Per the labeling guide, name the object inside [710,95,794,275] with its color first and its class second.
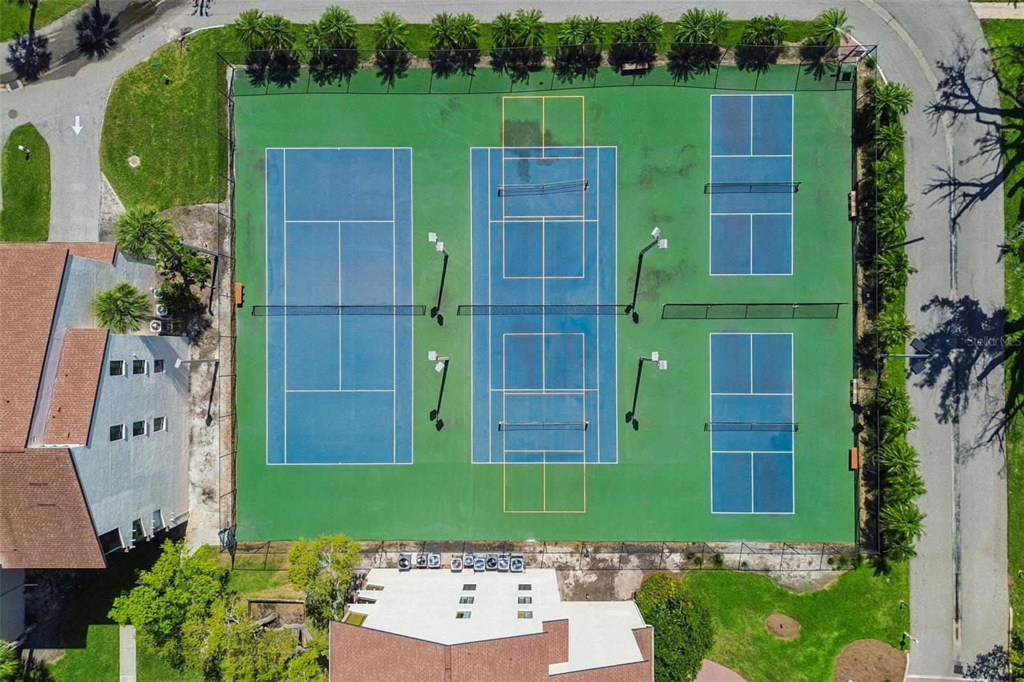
blue sports court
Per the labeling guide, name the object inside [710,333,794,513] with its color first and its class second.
blue sports court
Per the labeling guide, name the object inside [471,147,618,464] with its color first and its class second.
blue tennis court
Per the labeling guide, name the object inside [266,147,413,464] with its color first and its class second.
blue tennis court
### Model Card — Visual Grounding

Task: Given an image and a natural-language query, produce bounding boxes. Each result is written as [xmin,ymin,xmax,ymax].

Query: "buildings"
[0,241,190,568]
[327,569,655,682]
